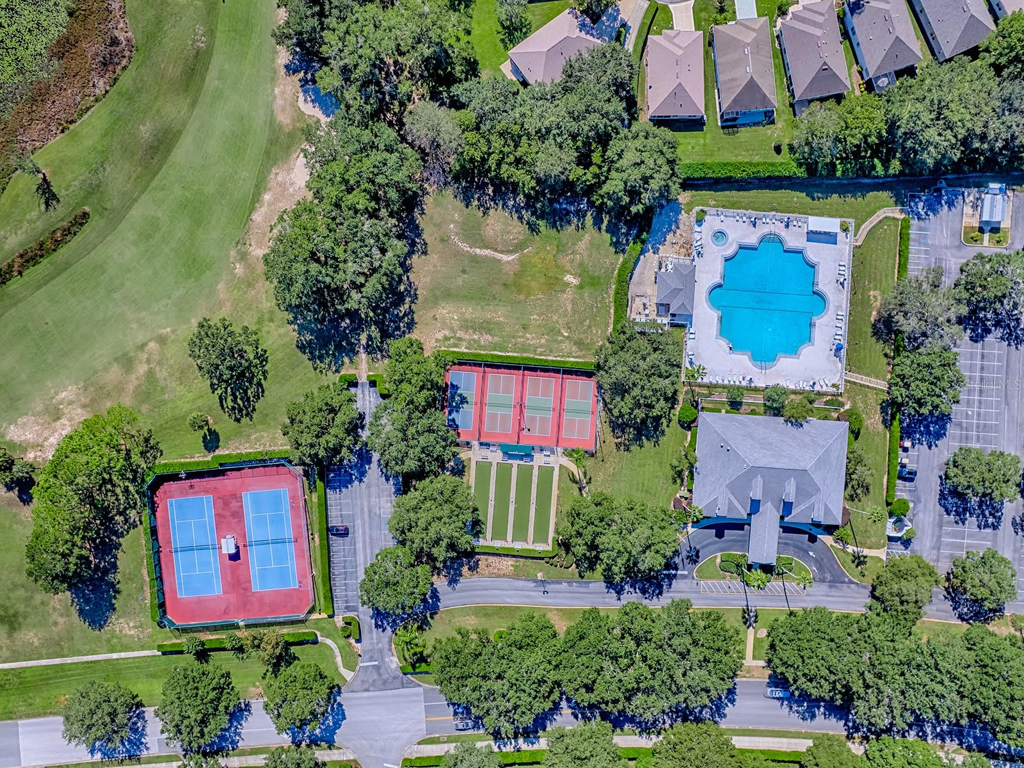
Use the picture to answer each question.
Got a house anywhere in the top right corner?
Yes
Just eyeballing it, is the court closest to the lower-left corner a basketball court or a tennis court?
tennis court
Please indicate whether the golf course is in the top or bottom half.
top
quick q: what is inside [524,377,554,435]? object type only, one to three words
sports court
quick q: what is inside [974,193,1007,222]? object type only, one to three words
shed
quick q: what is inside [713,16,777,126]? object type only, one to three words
house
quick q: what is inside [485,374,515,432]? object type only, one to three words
sports court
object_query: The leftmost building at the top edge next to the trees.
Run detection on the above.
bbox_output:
[508,3,606,88]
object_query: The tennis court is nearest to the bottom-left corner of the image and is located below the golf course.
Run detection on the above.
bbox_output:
[166,493,224,600]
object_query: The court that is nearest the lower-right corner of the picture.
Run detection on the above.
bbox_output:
[563,380,593,438]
